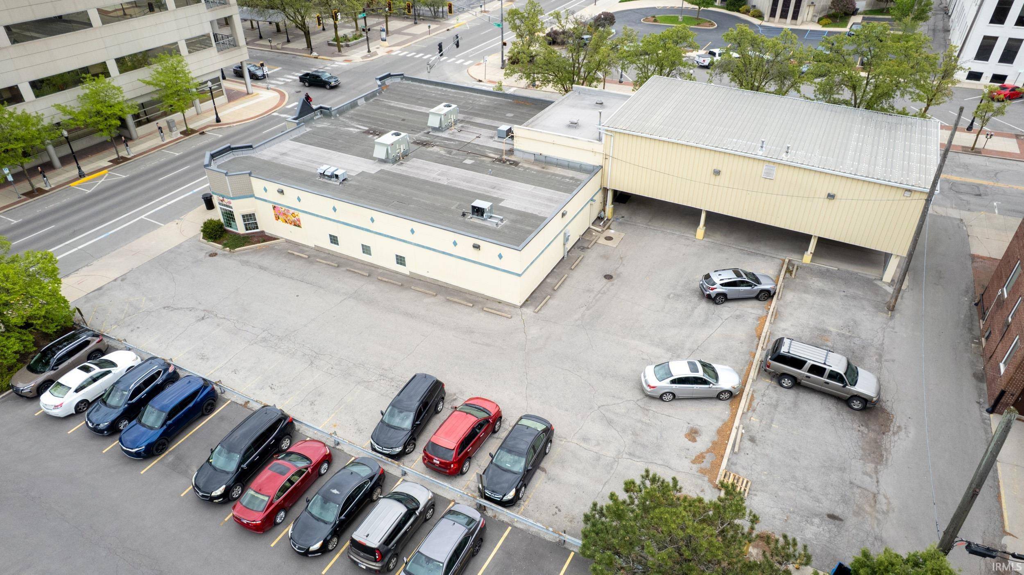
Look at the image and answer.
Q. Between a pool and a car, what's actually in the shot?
car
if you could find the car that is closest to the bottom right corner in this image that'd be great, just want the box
[769,336,889,412]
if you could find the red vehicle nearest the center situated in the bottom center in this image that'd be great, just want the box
[423,400,502,481]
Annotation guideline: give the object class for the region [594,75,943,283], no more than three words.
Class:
building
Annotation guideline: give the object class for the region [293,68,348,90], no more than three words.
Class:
truck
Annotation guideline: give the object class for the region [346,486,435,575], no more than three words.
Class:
car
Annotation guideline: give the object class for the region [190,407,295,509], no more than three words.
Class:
car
